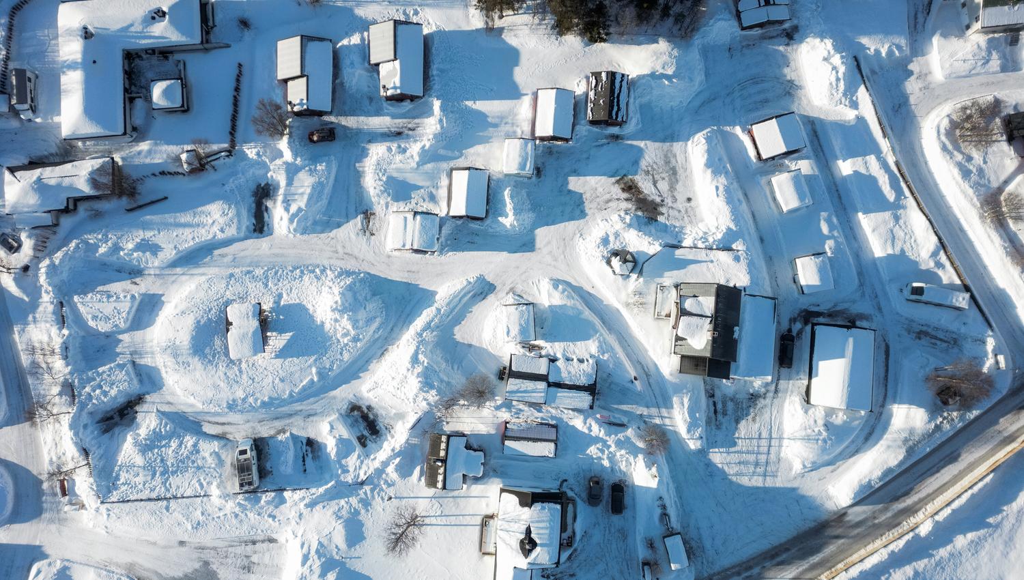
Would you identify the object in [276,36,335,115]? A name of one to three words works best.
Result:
house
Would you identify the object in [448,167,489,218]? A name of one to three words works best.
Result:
shed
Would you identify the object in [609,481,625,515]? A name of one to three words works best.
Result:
car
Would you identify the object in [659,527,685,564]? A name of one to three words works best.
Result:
trailer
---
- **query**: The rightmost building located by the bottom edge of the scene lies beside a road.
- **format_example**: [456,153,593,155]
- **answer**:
[481,479,576,580]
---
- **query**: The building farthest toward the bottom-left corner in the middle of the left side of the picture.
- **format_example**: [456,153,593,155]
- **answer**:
[226,302,270,359]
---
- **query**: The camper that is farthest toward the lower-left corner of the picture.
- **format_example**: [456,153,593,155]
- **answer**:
[233,432,258,486]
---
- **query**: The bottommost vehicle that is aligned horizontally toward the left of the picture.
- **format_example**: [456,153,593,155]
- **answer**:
[307,128,337,143]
